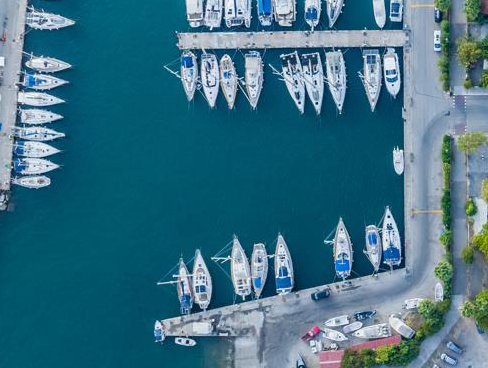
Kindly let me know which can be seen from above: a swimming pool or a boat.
boat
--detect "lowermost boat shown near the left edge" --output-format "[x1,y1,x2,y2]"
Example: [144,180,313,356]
[10,175,55,190]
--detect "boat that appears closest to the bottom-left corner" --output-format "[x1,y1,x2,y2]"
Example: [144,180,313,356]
[152,321,165,344]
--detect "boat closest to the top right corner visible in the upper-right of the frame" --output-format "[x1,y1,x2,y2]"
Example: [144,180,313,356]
[390,0,403,22]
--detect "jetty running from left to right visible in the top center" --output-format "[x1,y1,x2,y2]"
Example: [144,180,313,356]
[178,31,403,49]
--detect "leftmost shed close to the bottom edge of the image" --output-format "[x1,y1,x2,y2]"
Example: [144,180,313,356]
[320,349,346,368]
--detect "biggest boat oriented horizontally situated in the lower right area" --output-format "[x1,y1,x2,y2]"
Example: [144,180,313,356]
[354,323,392,337]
